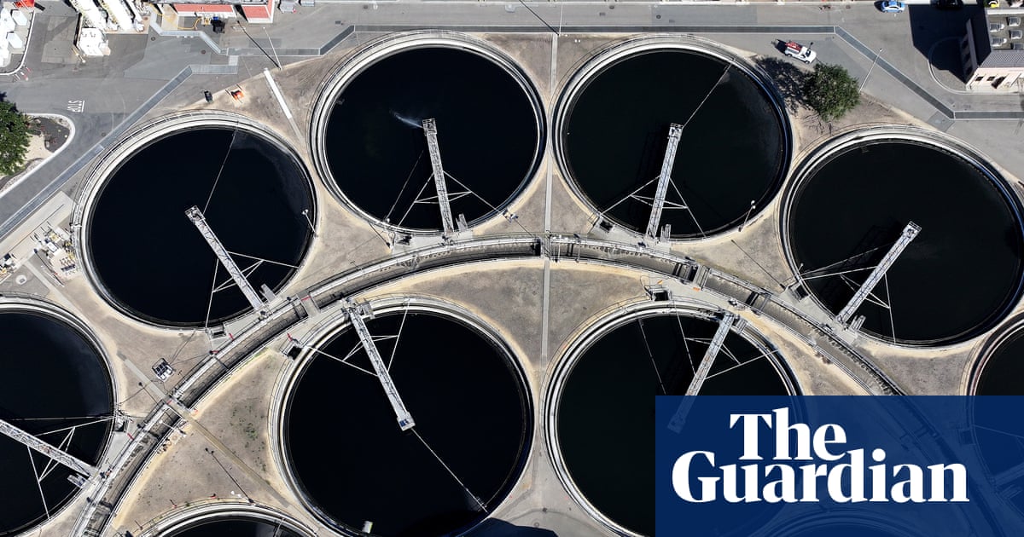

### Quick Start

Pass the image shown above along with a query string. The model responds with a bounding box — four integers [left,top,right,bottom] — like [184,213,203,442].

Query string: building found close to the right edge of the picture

[959,6,1024,104]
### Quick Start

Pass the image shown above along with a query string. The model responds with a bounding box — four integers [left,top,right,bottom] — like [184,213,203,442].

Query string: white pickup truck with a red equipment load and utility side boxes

[782,39,820,67]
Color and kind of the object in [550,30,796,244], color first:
black storage tank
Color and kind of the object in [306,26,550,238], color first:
black storage tank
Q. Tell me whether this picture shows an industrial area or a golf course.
industrial area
